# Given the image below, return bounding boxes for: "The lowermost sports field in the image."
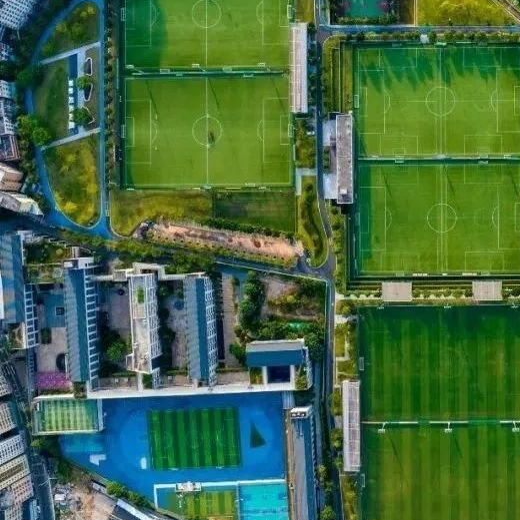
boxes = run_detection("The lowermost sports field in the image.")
[156,484,237,520]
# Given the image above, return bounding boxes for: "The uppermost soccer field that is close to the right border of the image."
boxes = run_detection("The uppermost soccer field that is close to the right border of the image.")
[343,39,520,159]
